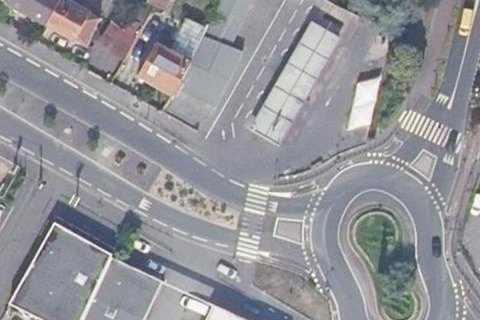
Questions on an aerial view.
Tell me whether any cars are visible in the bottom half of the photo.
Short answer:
Yes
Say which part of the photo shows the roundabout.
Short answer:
bottom right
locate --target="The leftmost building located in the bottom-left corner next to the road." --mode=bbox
[10,221,114,320]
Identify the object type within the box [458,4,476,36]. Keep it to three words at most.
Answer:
vehicle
